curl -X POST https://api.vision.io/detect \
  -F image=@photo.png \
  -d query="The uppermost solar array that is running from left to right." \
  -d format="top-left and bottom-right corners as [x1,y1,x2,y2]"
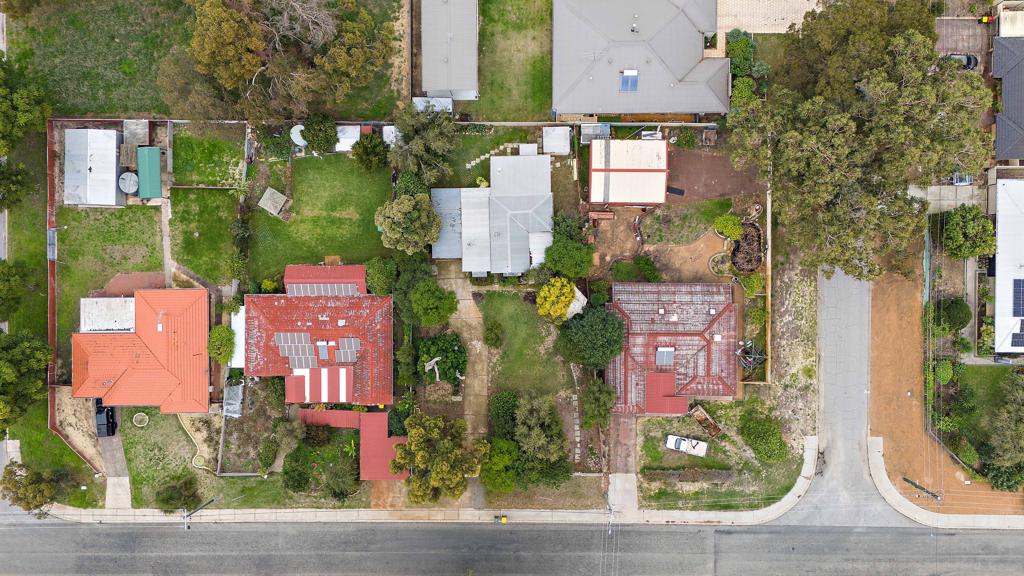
[287,283,357,295]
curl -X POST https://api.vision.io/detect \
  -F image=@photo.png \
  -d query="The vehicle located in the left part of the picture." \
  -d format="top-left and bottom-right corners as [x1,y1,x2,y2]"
[93,399,115,435]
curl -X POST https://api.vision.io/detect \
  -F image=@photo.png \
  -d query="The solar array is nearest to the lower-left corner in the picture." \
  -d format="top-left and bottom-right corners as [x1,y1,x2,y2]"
[275,332,317,368]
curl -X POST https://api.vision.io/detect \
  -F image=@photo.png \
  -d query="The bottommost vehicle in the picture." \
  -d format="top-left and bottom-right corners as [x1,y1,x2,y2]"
[665,435,712,460]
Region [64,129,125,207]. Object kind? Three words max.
shed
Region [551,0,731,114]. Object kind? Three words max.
house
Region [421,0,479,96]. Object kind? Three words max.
shed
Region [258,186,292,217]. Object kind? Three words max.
gazebo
